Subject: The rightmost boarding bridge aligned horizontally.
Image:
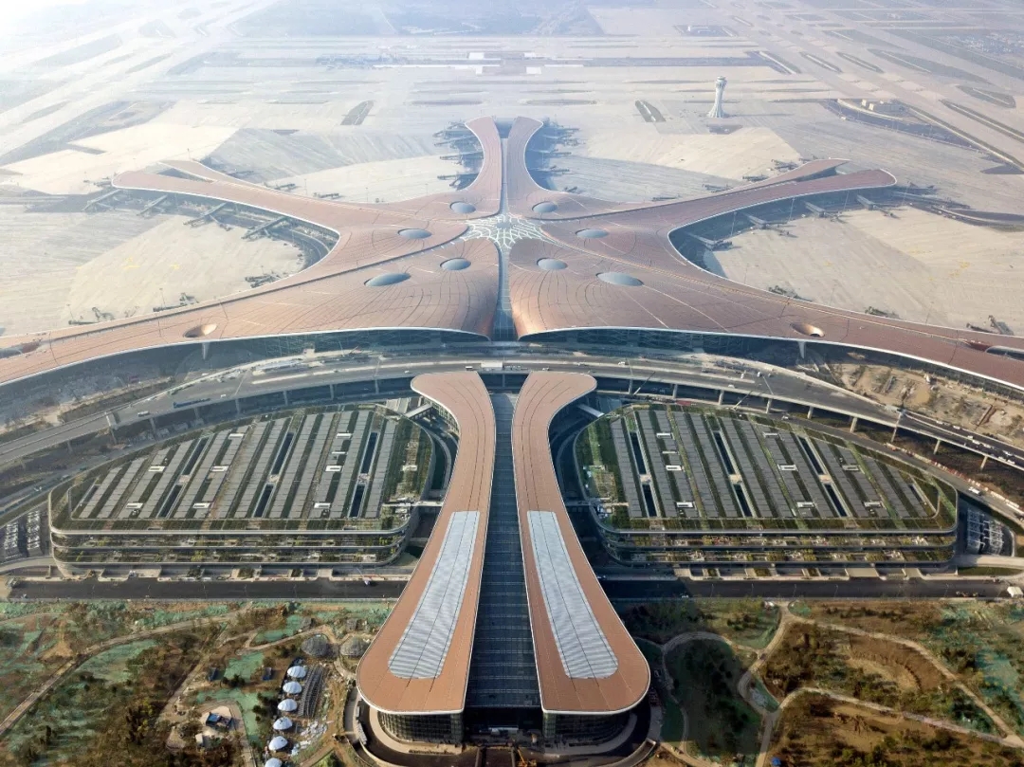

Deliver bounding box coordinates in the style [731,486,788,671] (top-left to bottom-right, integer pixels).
[964,323,1003,336]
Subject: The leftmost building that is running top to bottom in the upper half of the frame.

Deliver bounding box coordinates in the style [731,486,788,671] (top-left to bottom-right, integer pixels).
[708,76,730,120]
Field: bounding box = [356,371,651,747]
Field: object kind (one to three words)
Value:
building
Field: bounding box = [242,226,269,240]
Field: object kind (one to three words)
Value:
jet bridge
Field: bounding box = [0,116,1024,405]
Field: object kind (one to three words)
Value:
building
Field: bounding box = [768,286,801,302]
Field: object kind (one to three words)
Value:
jet bridge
